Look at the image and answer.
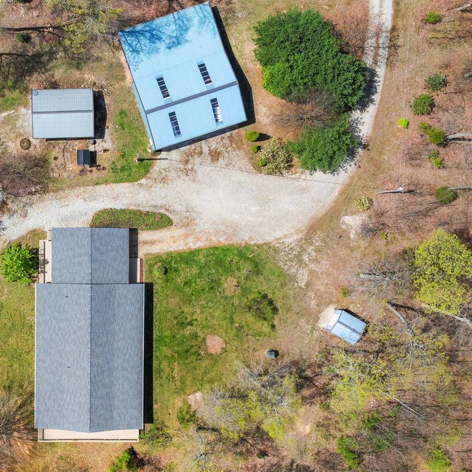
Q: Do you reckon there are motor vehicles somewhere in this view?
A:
No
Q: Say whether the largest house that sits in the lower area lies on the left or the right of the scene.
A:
left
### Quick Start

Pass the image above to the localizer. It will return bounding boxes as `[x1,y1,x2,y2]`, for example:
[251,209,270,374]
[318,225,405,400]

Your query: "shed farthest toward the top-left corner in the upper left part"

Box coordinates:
[31,88,94,140]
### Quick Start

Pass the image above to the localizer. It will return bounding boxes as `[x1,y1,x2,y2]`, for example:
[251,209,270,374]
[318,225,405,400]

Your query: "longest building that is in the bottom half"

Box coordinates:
[34,227,145,433]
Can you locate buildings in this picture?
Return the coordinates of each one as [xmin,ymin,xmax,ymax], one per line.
[117,2,247,151]
[31,88,94,140]
[323,310,365,344]
[34,227,145,433]
[76,150,90,165]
